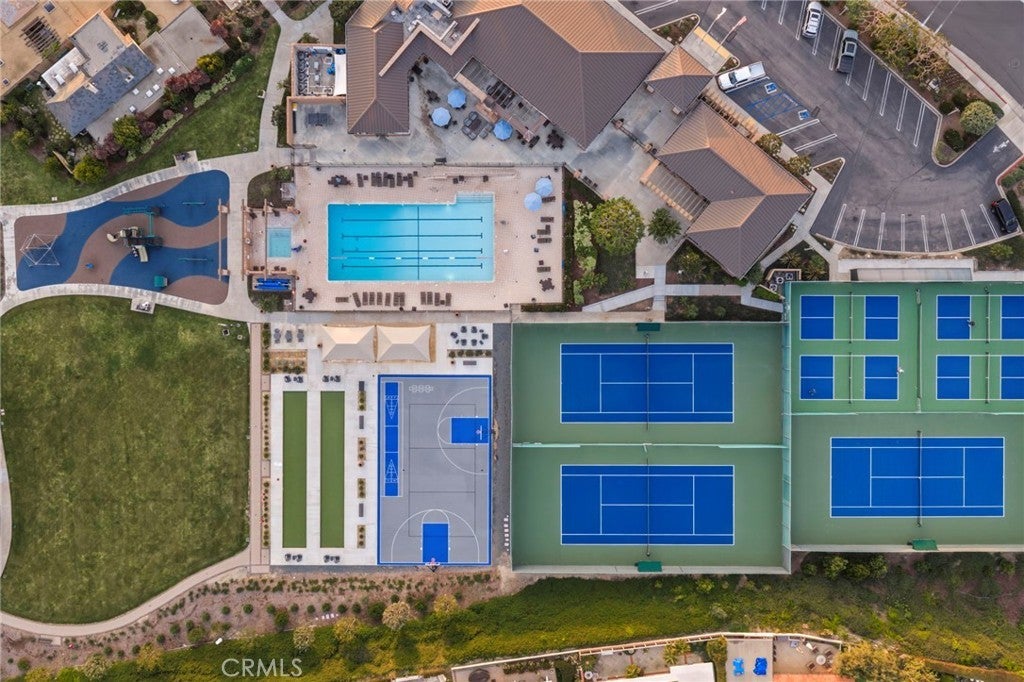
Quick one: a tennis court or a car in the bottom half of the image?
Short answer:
tennis court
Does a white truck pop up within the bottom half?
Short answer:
No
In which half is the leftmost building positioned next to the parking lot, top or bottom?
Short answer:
top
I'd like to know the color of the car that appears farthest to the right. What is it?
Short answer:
black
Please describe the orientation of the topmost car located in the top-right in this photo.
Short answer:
from top to bottom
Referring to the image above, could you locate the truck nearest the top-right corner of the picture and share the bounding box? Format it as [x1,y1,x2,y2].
[835,30,860,75]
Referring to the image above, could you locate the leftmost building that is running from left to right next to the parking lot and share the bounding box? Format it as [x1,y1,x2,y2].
[344,0,666,150]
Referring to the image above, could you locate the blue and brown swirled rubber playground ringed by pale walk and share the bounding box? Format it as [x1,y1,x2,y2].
[15,170,230,304]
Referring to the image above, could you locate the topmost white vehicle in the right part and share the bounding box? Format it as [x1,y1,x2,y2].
[800,3,821,40]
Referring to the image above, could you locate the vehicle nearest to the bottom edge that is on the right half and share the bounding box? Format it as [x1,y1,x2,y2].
[989,197,1016,234]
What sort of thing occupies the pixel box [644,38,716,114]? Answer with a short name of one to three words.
building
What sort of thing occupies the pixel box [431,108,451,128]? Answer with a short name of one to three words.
umbrella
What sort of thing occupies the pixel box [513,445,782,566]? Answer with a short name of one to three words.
tennis court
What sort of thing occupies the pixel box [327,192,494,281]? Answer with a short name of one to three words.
swimming pool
